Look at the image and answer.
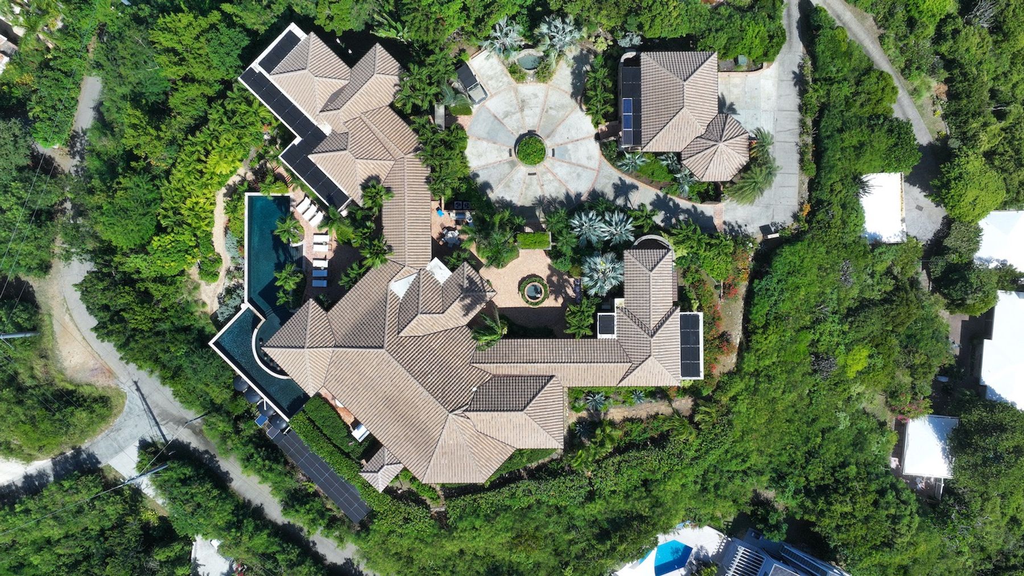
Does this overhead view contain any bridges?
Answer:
No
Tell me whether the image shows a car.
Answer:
Yes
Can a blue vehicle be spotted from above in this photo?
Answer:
No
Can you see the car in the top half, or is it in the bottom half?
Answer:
top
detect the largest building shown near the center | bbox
[237,22,704,494]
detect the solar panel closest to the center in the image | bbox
[600,316,614,334]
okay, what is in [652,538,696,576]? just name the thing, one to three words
swimming pool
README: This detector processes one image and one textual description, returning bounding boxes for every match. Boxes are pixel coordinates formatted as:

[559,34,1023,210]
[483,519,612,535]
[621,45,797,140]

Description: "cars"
[455,61,490,107]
